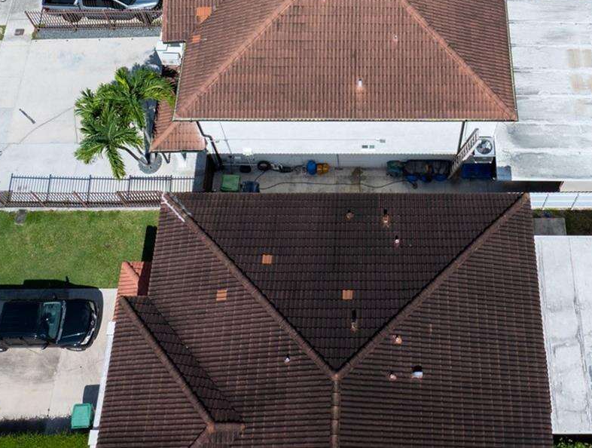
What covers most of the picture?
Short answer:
buildings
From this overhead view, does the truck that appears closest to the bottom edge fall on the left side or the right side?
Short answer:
left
